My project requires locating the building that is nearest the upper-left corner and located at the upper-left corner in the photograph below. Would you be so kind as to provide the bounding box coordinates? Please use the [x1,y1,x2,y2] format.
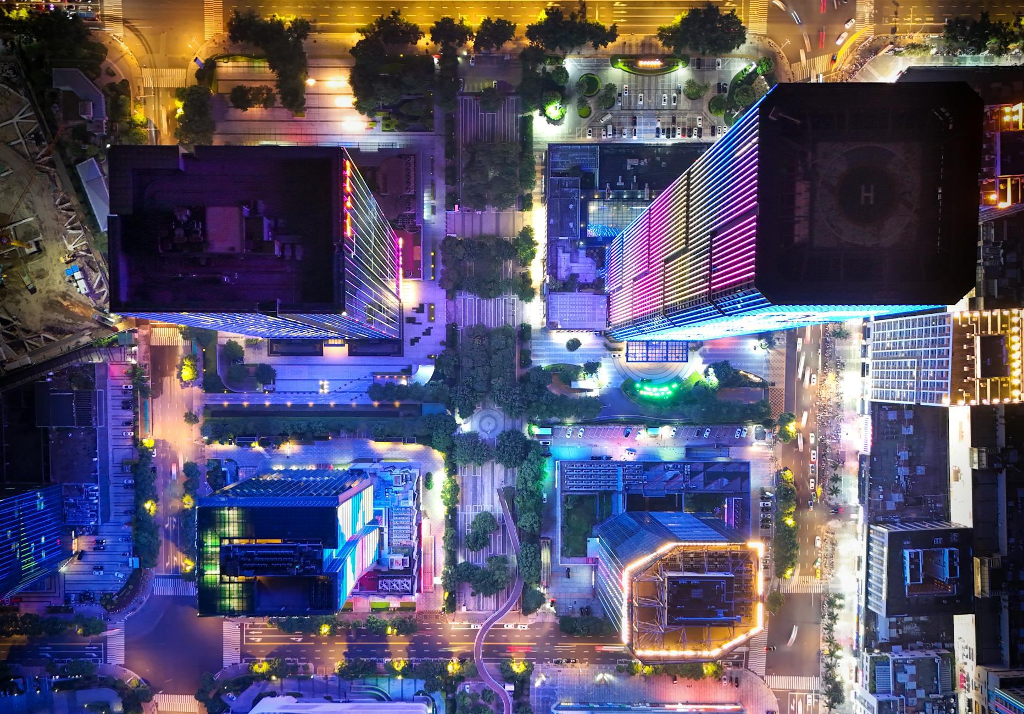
[52,67,115,139]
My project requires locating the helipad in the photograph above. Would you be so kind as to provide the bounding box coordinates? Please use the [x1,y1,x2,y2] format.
[814,144,917,246]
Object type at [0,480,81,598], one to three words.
building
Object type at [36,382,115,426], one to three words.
building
